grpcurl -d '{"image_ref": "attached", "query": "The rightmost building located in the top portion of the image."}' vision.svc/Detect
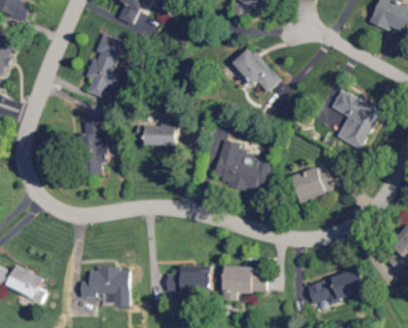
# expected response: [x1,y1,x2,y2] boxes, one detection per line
[374,0,408,32]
